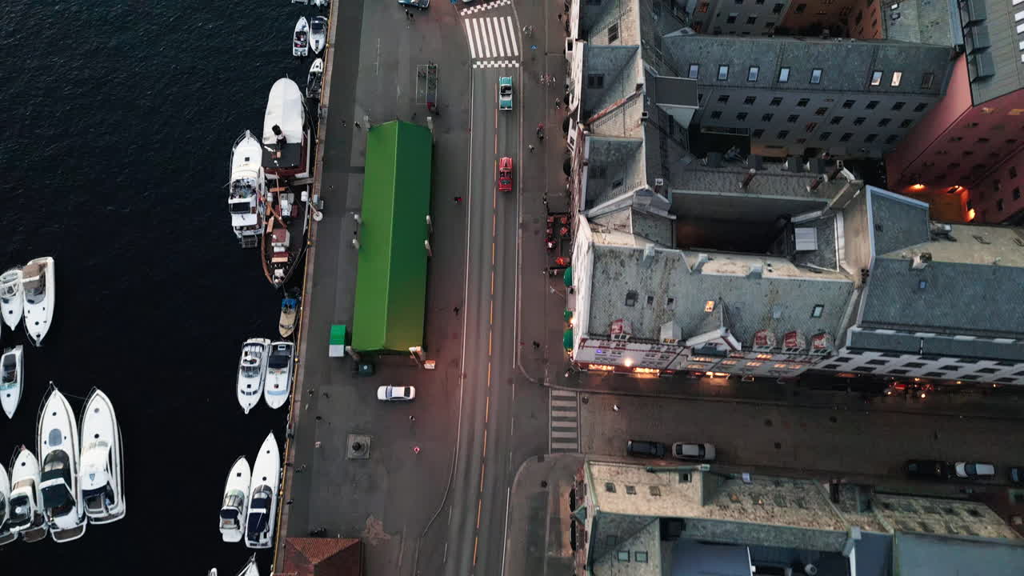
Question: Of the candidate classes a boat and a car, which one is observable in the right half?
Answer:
car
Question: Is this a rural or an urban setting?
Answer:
urban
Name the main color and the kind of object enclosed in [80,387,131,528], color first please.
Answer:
white boat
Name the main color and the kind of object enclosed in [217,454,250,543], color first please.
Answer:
white boat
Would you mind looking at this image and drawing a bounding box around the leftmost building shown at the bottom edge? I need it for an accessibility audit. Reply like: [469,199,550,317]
[283,536,364,576]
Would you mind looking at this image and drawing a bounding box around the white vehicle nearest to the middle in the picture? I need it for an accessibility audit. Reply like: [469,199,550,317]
[377,384,416,400]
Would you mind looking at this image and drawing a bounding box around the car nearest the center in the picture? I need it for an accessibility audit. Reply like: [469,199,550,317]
[498,156,513,194]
